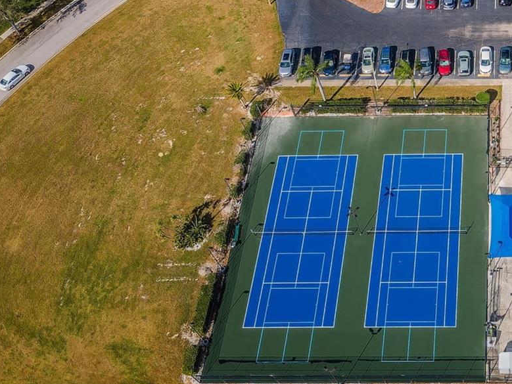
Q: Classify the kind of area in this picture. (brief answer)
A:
sports ground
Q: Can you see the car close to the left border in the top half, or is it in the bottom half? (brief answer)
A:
top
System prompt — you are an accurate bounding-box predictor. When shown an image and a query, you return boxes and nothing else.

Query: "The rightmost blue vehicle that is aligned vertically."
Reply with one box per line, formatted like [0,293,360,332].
[499,46,512,73]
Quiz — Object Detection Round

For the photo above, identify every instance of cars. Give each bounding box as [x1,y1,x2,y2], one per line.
[278,48,296,76]
[360,47,376,75]
[457,50,471,77]
[298,43,316,73]
[378,46,394,74]
[443,0,456,9]
[419,45,433,75]
[499,46,512,73]
[386,0,400,9]
[500,0,511,6]
[323,50,339,77]
[405,0,419,10]
[0,65,33,91]
[478,47,493,74]
[437,49,451,76]
[425,0,437,9]
[460,0,472,9]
